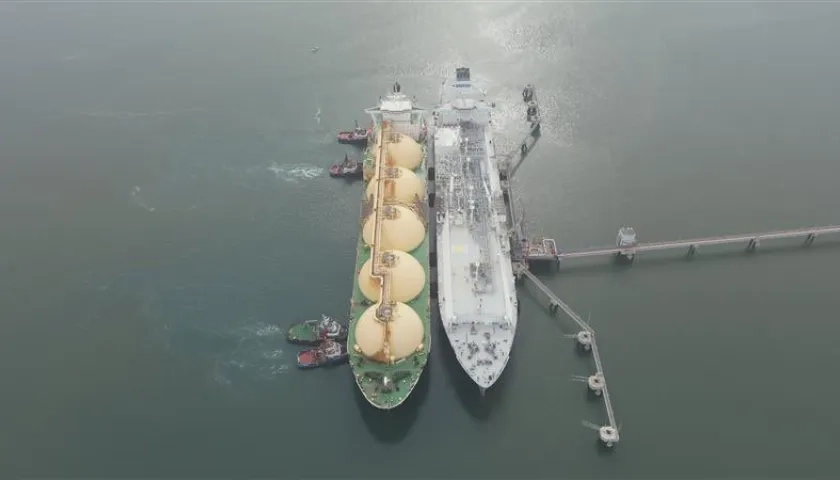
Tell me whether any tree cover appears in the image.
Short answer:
No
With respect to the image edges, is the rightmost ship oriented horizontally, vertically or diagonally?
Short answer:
vertically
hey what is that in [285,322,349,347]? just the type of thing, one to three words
boat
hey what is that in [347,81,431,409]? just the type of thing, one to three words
ship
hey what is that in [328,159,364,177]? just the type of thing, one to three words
boat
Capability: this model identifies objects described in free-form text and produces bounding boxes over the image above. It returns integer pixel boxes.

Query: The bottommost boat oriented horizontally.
[294,346,349,372]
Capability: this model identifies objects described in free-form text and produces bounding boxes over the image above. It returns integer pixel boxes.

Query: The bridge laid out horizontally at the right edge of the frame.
[557,226,840,262]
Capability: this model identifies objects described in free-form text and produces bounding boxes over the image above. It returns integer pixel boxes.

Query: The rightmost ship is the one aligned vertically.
[431,68,517,399]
